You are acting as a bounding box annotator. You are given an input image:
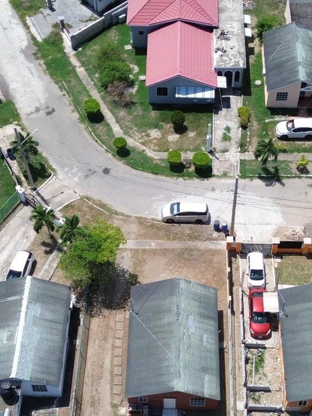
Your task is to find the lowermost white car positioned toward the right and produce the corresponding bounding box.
[245,251,269,294]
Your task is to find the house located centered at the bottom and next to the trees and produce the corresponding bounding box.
[127,275,219,416]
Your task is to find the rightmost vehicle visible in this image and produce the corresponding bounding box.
[275,120,312,142]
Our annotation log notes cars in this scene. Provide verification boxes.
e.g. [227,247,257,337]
[2,245,37,282]
[275,120,312,142]
[161,203,211,226]
[245,251,269,294]
[249,294,274,343]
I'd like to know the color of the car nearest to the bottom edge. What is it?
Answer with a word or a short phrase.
red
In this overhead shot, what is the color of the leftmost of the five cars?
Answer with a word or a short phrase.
white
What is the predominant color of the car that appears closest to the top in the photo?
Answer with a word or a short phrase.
white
